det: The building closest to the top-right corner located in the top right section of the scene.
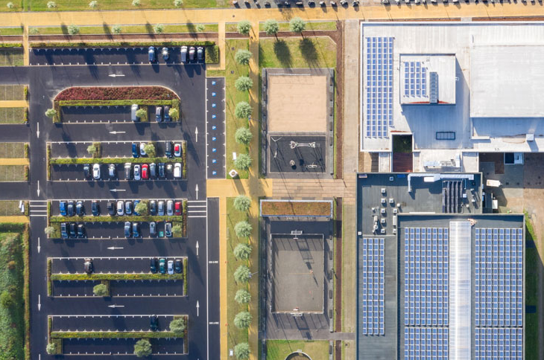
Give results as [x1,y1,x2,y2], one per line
[360,22,544,172]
